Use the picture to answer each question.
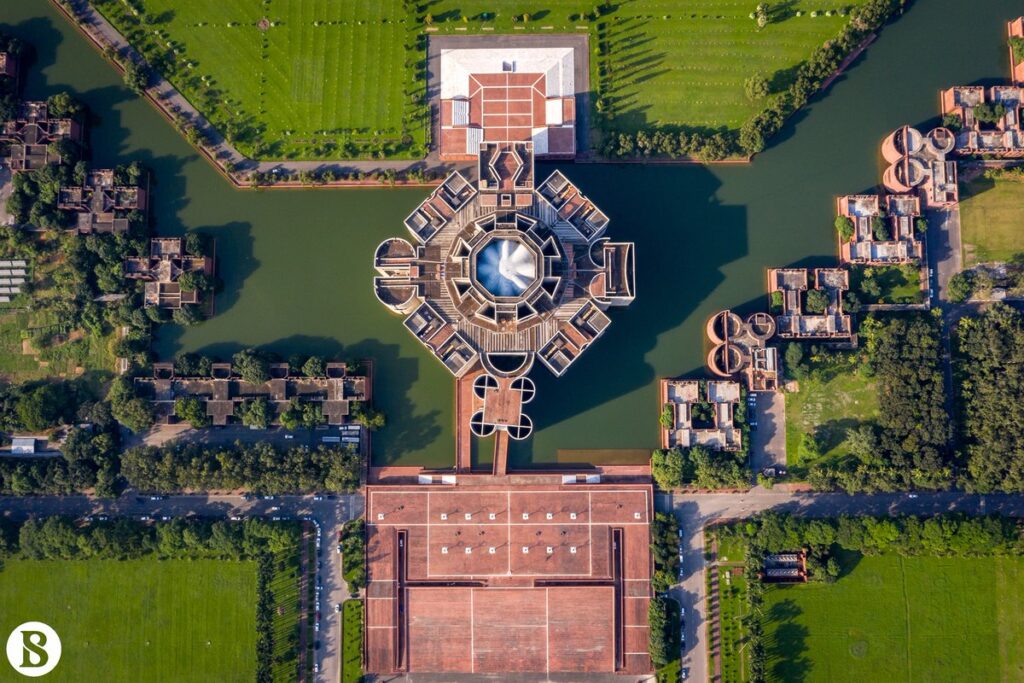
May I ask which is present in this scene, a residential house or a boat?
residential house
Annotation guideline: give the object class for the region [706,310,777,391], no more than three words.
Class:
building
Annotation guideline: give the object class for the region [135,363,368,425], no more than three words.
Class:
building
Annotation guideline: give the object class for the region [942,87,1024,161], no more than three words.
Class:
house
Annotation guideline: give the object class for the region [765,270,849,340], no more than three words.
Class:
house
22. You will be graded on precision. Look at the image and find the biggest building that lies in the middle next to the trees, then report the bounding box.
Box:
[375,136,634,441]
